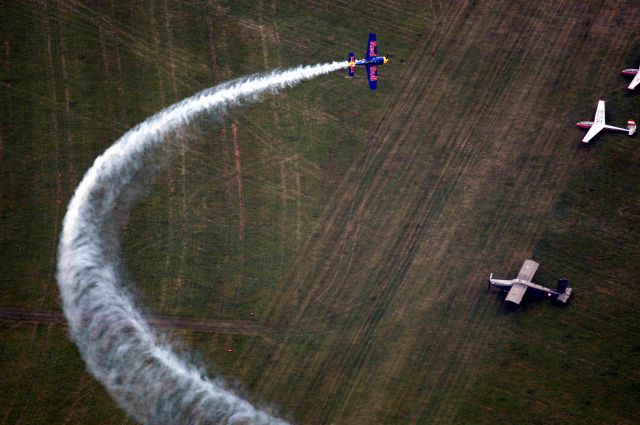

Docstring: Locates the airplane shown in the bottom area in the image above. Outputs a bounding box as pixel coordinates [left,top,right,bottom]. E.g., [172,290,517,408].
[491,261,571,304]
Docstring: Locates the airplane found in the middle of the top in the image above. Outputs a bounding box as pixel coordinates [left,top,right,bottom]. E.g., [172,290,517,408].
[347,33,389,89]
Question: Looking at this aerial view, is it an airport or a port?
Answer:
airport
